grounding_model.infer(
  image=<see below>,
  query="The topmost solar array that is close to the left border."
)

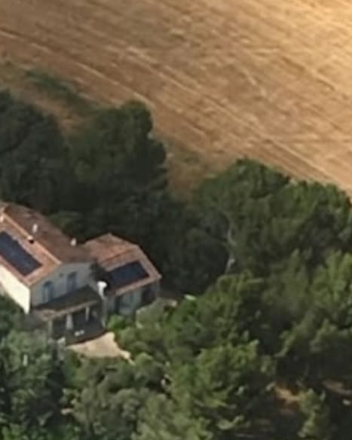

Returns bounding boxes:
[0,229,41,274]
